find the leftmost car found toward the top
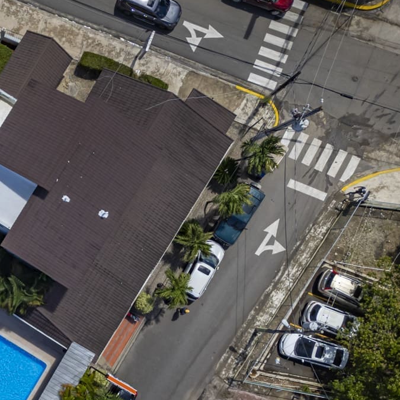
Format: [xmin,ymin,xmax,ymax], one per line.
[111,0,184,33]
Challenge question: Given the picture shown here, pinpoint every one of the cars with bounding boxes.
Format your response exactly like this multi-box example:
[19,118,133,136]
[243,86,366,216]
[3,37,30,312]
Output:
[291,302,359,344]
[180,236,231,307]
[111,0,184,33]
[226,0,291,17]
[212,180,268,247]
[302,268,373,310]
[274,333,351,371]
